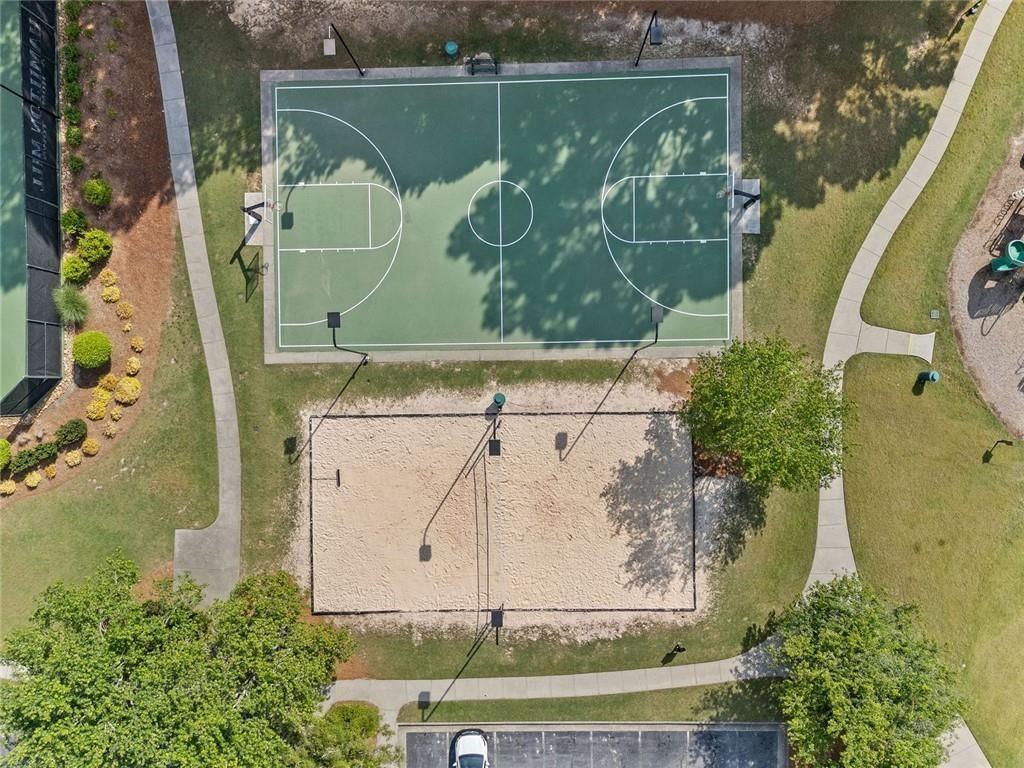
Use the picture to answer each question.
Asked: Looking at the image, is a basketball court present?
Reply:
Yes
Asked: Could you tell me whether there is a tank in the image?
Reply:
No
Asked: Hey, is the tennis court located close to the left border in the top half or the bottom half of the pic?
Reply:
top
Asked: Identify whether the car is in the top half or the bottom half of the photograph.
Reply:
bottom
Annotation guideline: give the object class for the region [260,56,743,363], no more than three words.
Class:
basketball court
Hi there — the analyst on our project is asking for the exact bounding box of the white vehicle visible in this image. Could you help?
[451,730,488,768]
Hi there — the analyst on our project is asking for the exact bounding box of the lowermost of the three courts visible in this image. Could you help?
[309,411,696,614]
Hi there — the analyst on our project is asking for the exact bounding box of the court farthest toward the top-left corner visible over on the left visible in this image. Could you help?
[0,0,25,399]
